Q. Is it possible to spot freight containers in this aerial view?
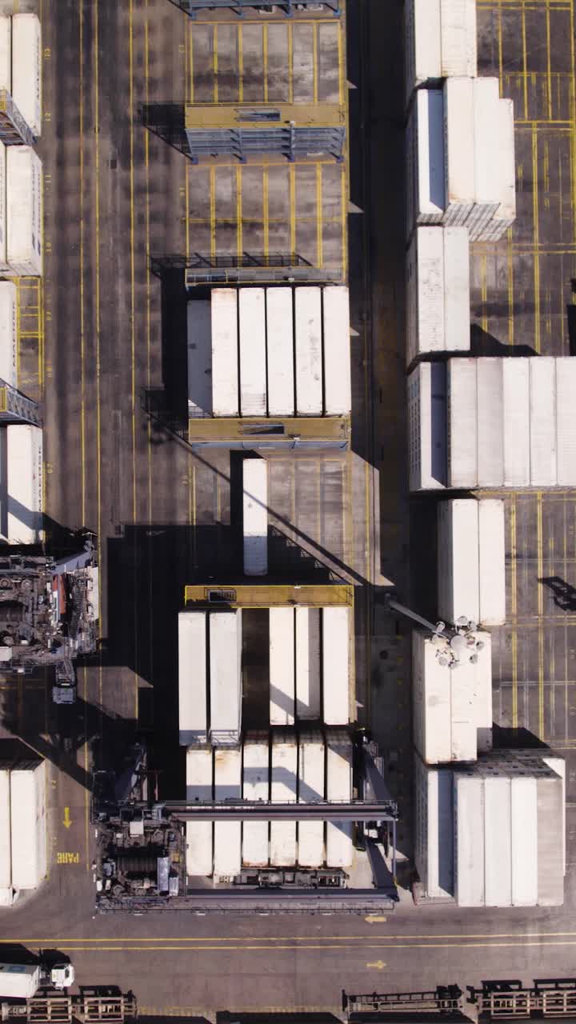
Yes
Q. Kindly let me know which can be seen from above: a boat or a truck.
truck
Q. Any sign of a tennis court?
No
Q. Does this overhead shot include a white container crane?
No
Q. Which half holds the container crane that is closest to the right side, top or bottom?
bottom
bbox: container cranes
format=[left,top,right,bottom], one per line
[0,527,102,672]
[91,720,403,919]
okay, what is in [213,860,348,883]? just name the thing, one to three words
trailer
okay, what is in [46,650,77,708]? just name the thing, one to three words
truck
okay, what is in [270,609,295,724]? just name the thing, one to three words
shipping container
